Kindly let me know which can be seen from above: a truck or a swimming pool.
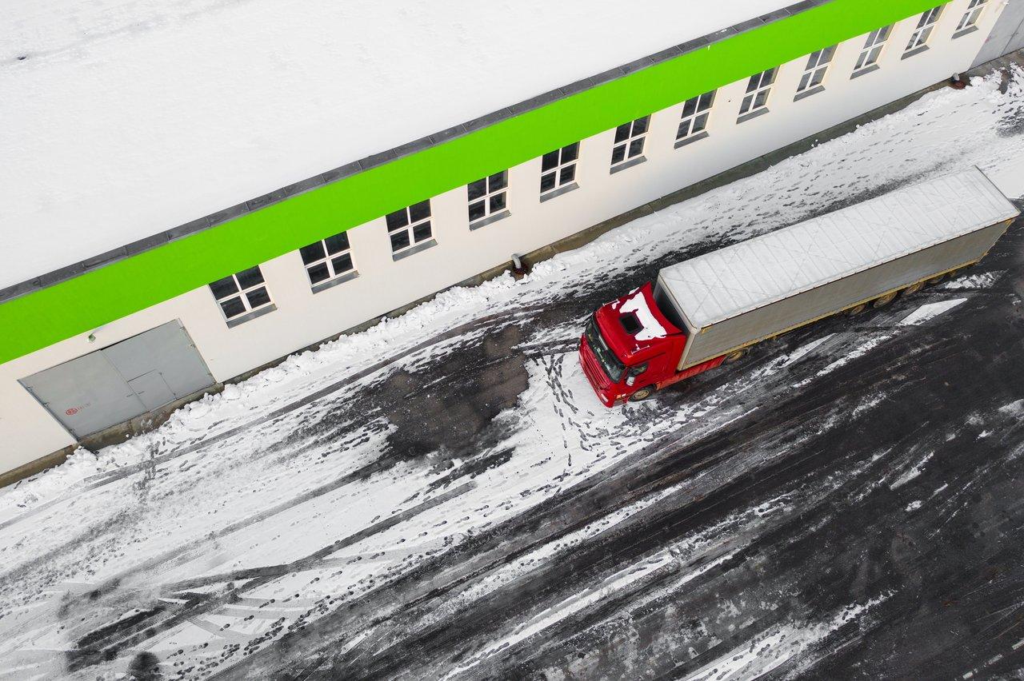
truck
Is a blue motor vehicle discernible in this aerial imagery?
No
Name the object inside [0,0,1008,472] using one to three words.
building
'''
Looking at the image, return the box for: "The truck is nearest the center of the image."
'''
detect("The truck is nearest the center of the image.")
[580,283,749,406]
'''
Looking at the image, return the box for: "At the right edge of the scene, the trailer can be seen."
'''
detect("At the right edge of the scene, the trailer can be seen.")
[650,167,1020,374]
